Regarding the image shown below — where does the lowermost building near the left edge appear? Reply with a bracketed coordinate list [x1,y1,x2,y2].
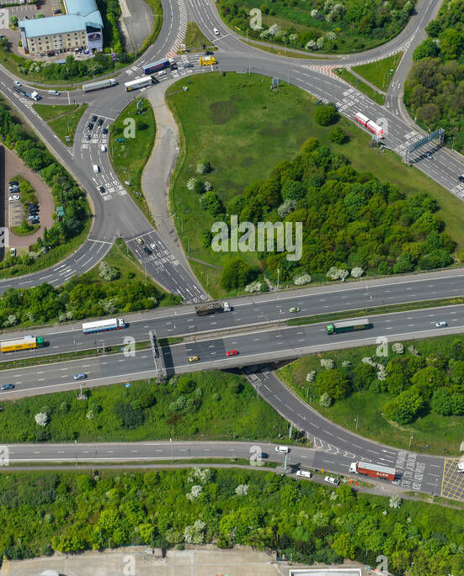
[17,11,105,55]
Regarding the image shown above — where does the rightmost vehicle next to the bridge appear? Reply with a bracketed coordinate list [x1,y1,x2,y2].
[327,320,369,334]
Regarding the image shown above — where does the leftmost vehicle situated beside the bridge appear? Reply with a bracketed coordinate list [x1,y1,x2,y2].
[82,318,125,333]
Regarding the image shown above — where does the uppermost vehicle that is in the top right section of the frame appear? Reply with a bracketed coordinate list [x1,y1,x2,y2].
[353,112,386,138]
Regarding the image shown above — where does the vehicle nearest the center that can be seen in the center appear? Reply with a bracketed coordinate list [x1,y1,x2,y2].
[195,303,232,316]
